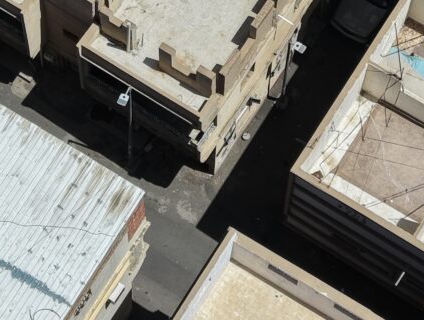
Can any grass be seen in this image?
No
